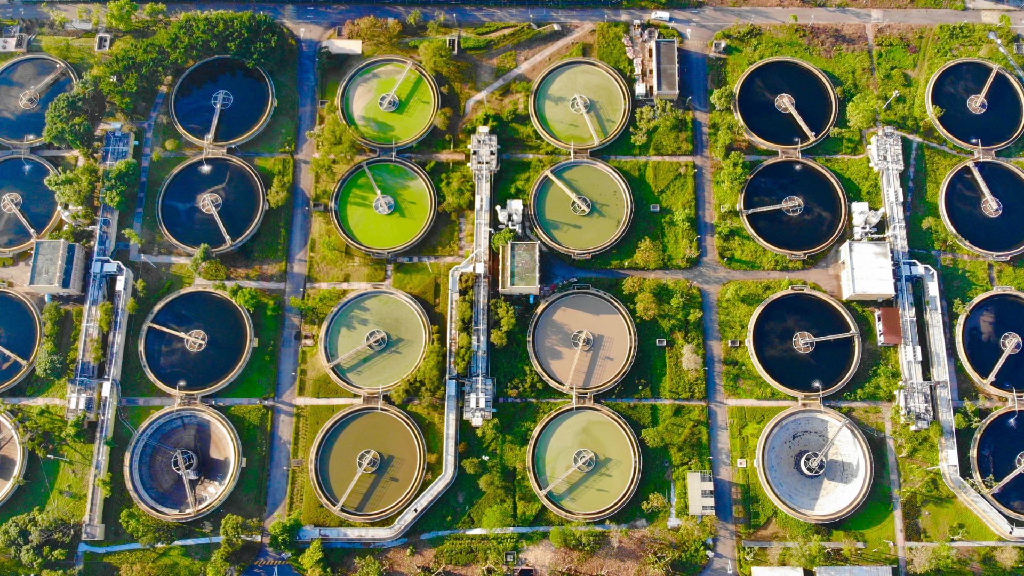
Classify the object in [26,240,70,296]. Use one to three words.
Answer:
building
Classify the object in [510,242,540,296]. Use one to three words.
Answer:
building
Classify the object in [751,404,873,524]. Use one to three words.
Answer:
storage tank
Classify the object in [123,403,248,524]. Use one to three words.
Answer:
storage tank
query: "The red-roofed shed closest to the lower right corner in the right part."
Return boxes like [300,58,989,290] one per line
[872,308,903,347]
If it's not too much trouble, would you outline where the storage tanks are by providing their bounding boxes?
[751,404,873,524]
[0,403,29,502]
[527,157,635,265]
[336,55,440,150]
[123,403,248,524]
[170,56,280,152]
[319,282,432,397]
[936,156,1024,266]
[157,152,268,261]
[528,58,632,153]
[742,284,861,400]
[922,58,1024,153]
[309,402,427,523]
[0,279,47,392]
[526,282,639,397]
[526,402,643,521]
[0,151,66,261]
[329,154,438,265]
[967,404,1024,523]
[735,155,848,265]
[732,57,838,155]
[952,286,1024,401]
[139,283,259,401]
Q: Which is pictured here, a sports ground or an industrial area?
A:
industrial area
